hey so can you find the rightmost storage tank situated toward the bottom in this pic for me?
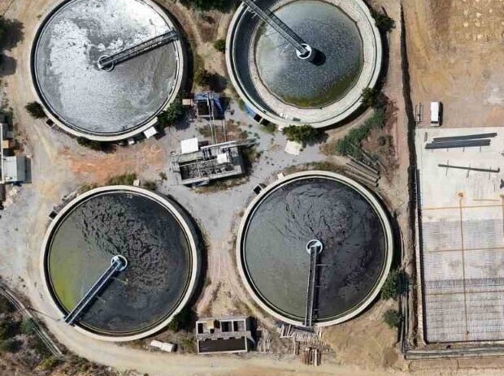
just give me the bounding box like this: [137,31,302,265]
[237,171,394,328]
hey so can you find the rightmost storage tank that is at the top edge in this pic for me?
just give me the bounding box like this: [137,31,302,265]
[227,0,384,128]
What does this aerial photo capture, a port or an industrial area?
industrial area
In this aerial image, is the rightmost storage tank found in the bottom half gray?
Yes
